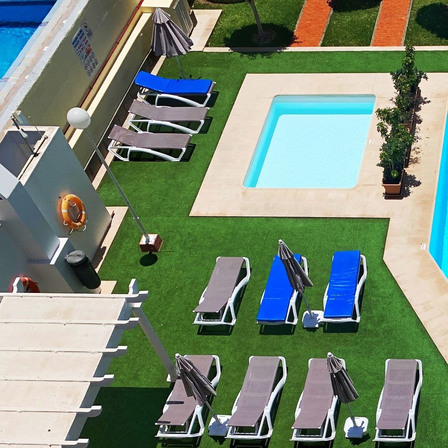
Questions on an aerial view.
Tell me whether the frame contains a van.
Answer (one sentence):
No, I can see no van in this picture.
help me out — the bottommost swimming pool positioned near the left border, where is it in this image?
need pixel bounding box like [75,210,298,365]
[0,3,54,77]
